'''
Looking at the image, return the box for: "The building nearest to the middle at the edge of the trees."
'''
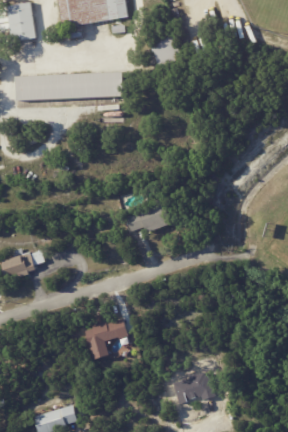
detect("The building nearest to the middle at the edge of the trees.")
[127,208,165,234]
